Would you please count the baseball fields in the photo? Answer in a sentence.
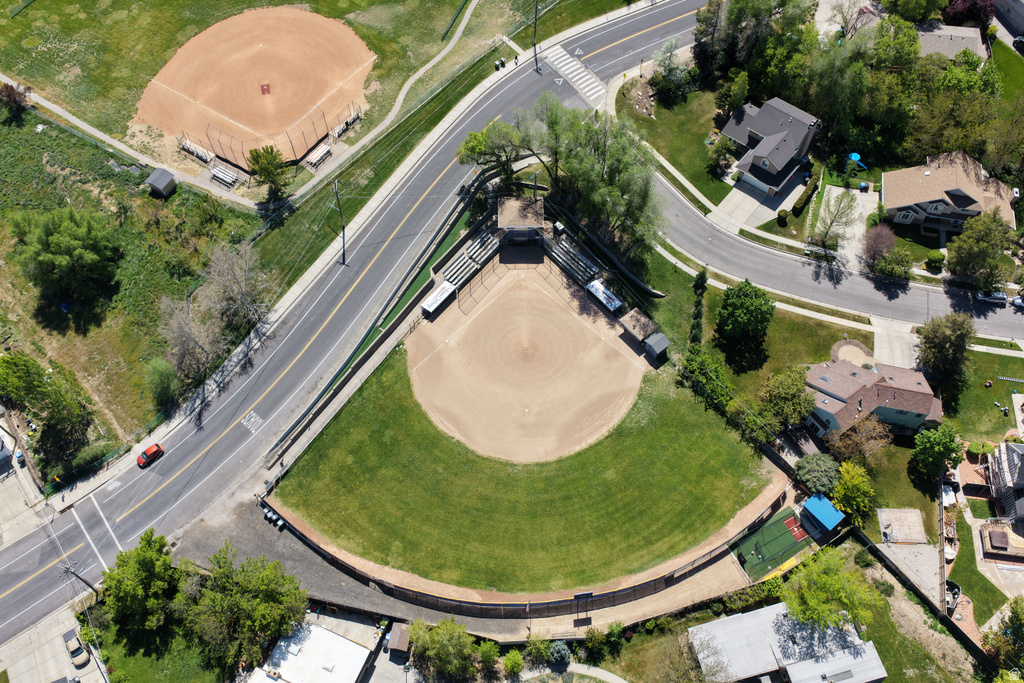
In total, 2 baseball fields can be seen.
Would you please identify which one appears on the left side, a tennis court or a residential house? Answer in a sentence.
Visible on the left side is a residential house.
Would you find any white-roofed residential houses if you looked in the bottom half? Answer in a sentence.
Yes, looking in the bottom half, one can make out a white-roofed residential house.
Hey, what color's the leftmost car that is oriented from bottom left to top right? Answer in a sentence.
From above, the leftmost car that is oriented from bottom left to top right appears red.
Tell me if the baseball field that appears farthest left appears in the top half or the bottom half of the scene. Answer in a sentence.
It is in the top half that the baseball field that appears farthest left appears.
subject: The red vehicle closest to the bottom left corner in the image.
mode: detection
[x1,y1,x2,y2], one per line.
[134,443,165,469]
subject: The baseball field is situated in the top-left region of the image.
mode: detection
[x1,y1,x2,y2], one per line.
[132,6,377,174]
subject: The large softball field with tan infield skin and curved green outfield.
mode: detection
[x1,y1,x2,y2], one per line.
[262,238,794,603]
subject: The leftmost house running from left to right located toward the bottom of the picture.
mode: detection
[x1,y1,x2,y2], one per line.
[235,622,371,683]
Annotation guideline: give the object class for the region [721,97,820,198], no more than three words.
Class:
house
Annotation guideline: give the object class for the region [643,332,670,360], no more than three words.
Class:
shed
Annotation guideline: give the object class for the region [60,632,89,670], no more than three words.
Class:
car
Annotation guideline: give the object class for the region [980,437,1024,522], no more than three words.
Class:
house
